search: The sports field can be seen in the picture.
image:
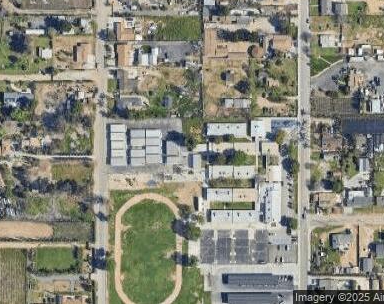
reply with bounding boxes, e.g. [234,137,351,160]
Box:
[121,198,177,304]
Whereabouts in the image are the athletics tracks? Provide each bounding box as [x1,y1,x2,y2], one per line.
[114,193,183,304]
